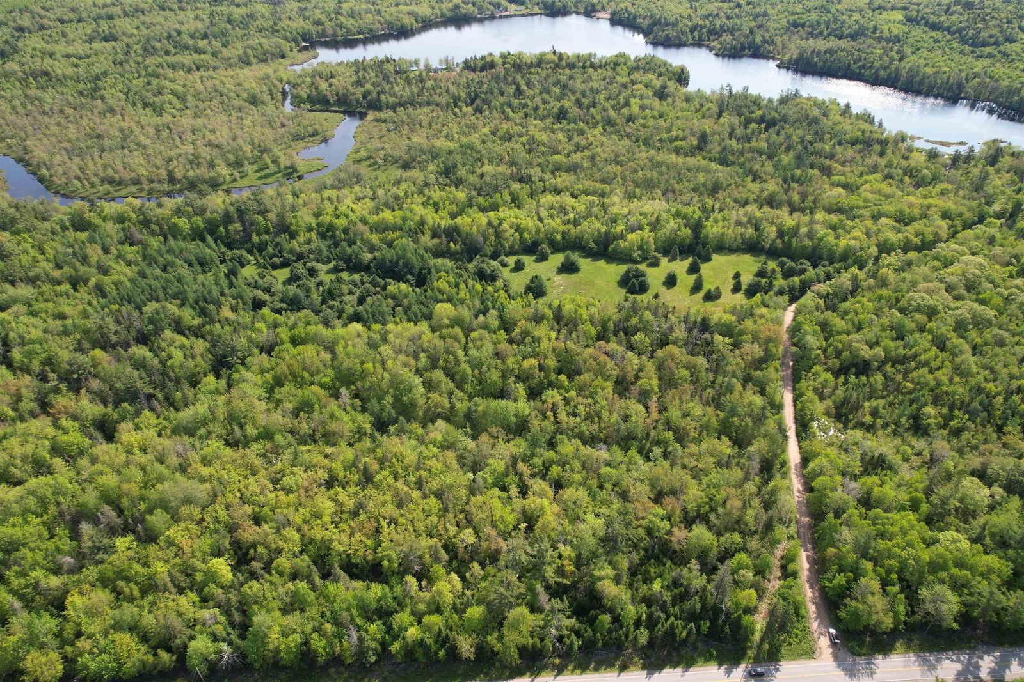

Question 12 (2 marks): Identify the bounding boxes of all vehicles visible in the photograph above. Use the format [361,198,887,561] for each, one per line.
[749,669,766,678]
[827,627,842,645]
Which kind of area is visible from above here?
forest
